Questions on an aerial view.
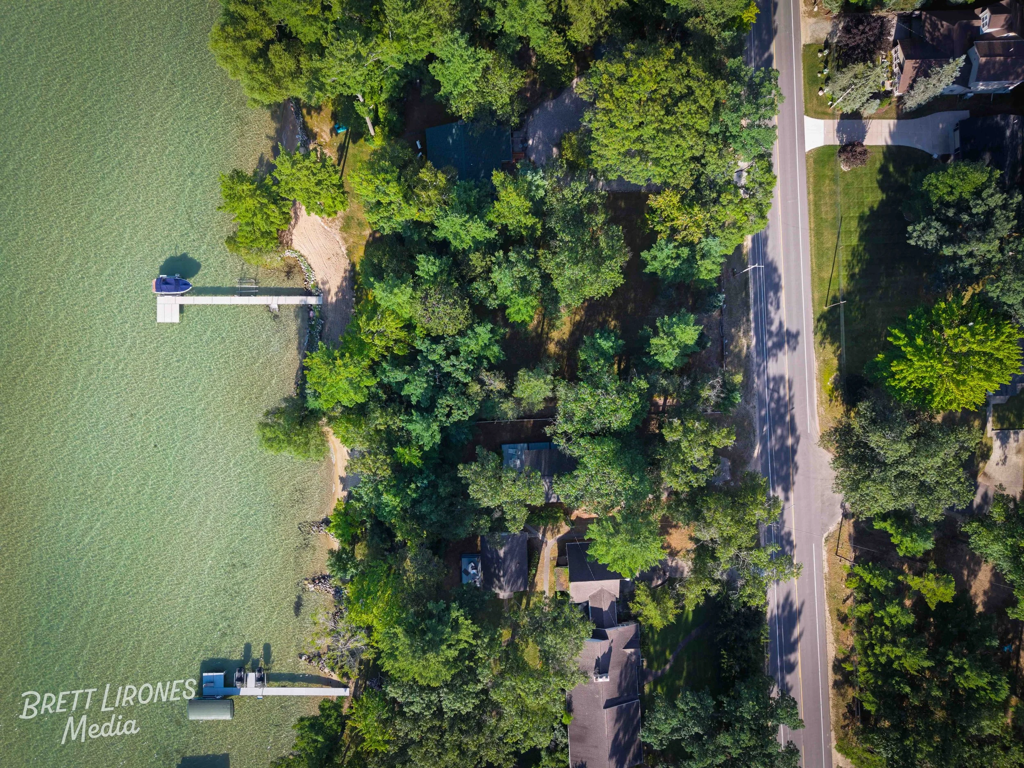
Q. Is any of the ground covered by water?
Yes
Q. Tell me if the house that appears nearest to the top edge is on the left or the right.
right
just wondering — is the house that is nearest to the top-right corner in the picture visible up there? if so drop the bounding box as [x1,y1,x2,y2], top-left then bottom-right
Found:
[892,8,1024,96]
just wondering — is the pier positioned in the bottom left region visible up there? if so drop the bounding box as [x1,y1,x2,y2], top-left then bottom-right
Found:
[201,672,349,698]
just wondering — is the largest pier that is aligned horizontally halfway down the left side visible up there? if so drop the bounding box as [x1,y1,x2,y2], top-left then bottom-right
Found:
[155,295,322,323]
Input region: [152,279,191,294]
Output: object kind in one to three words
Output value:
boat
